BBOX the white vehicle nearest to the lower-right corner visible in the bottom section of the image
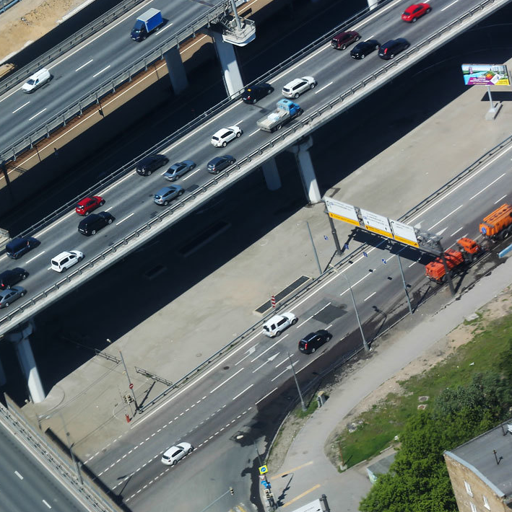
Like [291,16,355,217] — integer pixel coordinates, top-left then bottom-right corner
[262,312,297,336]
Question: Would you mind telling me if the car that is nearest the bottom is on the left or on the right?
left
